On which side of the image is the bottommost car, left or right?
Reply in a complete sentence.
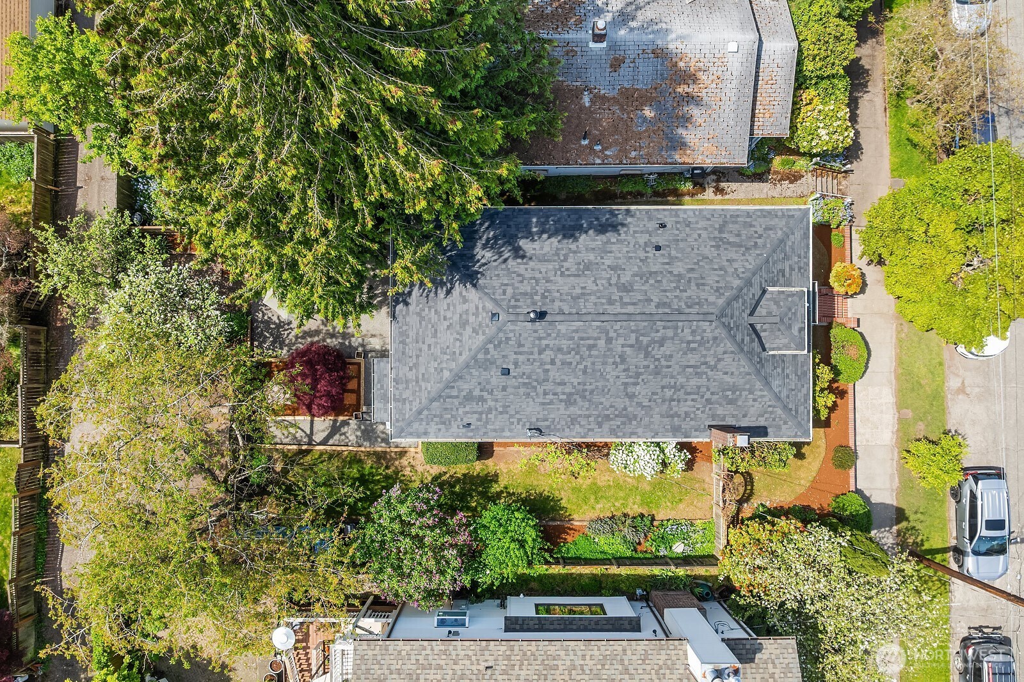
The bottommost car appears in the right half of the scene.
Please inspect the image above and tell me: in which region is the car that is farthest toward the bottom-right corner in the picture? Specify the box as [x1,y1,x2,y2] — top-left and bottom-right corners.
[952,616,1017,682]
